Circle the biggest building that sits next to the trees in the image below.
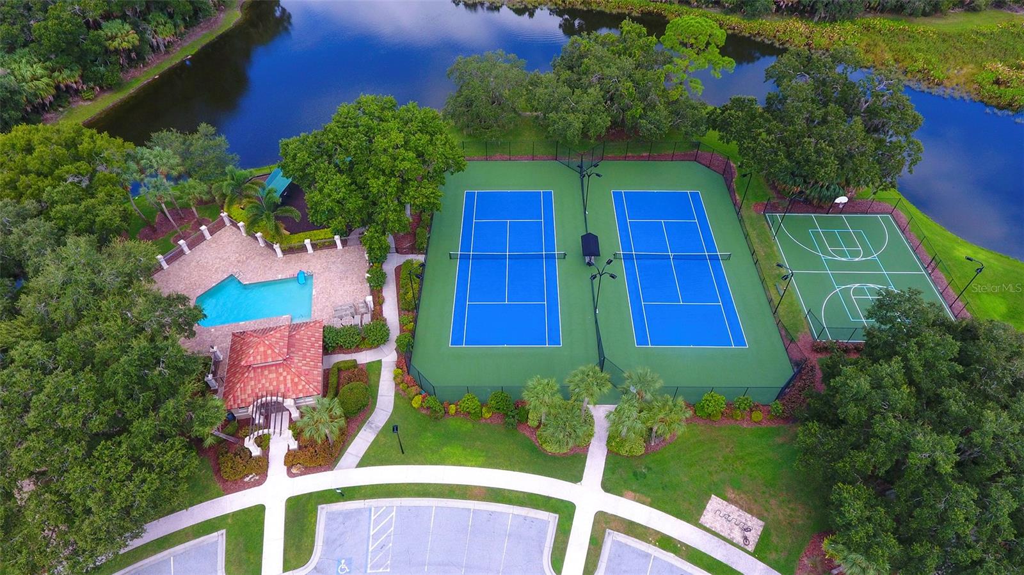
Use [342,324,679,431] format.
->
[224,317,325,421]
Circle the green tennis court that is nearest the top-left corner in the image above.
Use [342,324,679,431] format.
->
[409,160,605,403]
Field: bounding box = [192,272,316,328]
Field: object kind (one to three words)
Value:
swimming pool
